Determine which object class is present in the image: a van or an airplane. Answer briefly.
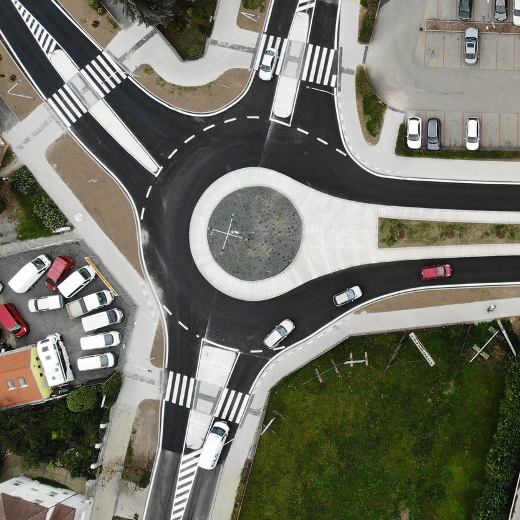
van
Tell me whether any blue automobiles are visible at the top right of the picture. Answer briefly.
No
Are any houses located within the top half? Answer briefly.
No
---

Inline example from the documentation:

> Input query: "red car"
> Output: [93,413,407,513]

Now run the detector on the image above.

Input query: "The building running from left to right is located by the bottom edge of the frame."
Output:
[0,470,104,520]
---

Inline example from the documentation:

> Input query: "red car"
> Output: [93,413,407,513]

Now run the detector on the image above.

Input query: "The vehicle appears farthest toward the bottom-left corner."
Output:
[55,383,74,397]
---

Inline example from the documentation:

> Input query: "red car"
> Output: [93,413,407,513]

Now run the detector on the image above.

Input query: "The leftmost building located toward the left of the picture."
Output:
[0,348,49,412]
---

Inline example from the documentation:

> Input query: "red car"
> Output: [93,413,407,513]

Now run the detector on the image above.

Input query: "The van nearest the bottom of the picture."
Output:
[196,418,229,472]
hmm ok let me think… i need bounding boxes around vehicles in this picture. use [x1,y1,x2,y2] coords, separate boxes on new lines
[509,0,520,25]
[44,254,75,290]
[37,333,74,389]
[76,331,125,351]
[492,0,509,21]
[77,308,127,332]
[54,262,99,300]
[425,118,442,151]
[457,0,473,20]
[0,300,28,338]
[63,291,117,319]
[2,254,55,296]
[28,294,68,311]
[196,418,229,472]
[463,28,480,64]
[263,319,296,348]
[55,383,74,397]
[332,285,363,307]
[405,116,422,148]
[464,117,480,151]
[74,352,118,370]
[258,47,279,82]
[421,263,452,279]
